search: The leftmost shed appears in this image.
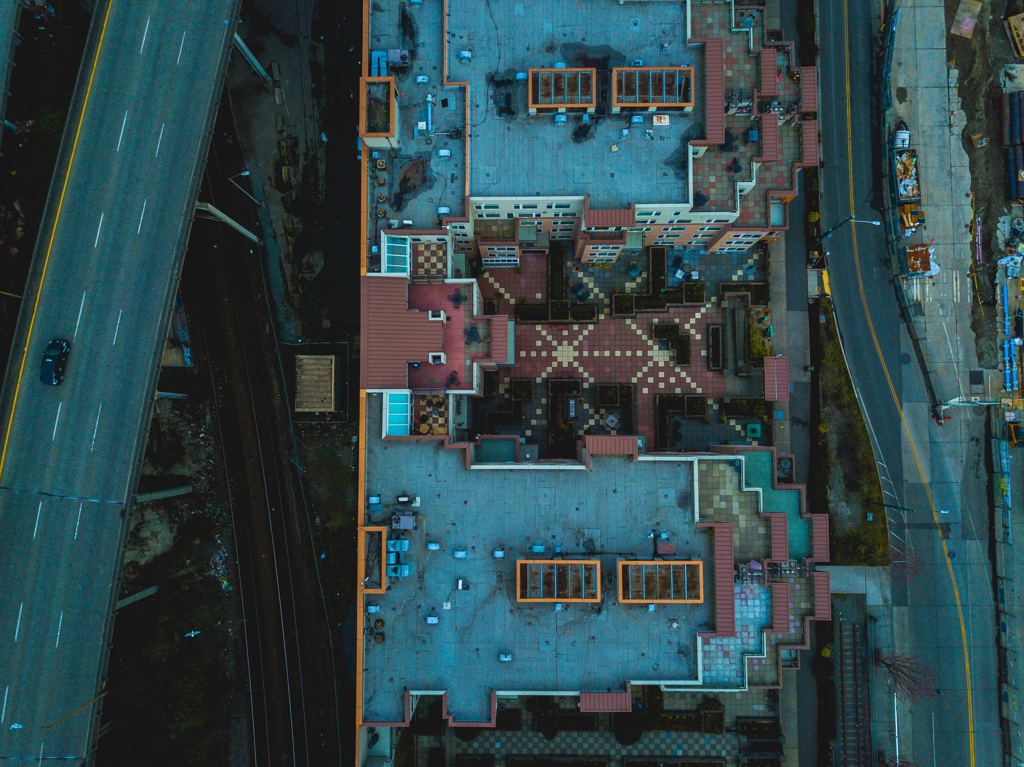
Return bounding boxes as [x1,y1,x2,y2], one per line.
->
[294,355,344,412]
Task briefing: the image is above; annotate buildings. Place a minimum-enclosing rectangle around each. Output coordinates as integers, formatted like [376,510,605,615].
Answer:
[355,388,830,767]
[359,0,817,282]
[294,355,344,412]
